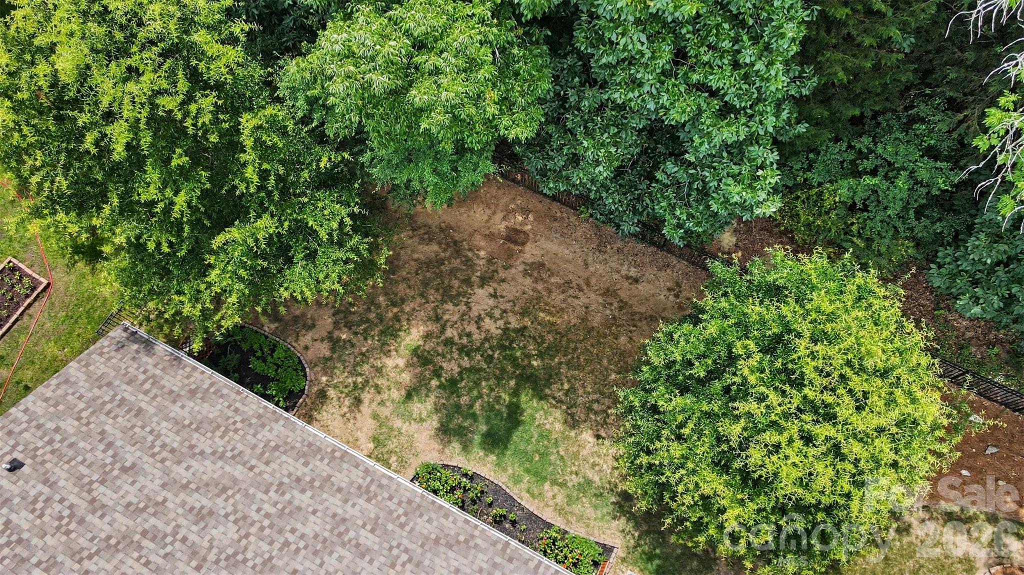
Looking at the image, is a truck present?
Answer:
No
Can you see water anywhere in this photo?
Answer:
No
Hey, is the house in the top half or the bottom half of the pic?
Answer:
bottom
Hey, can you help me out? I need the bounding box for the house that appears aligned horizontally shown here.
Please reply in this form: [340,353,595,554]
[0,324,569,575]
